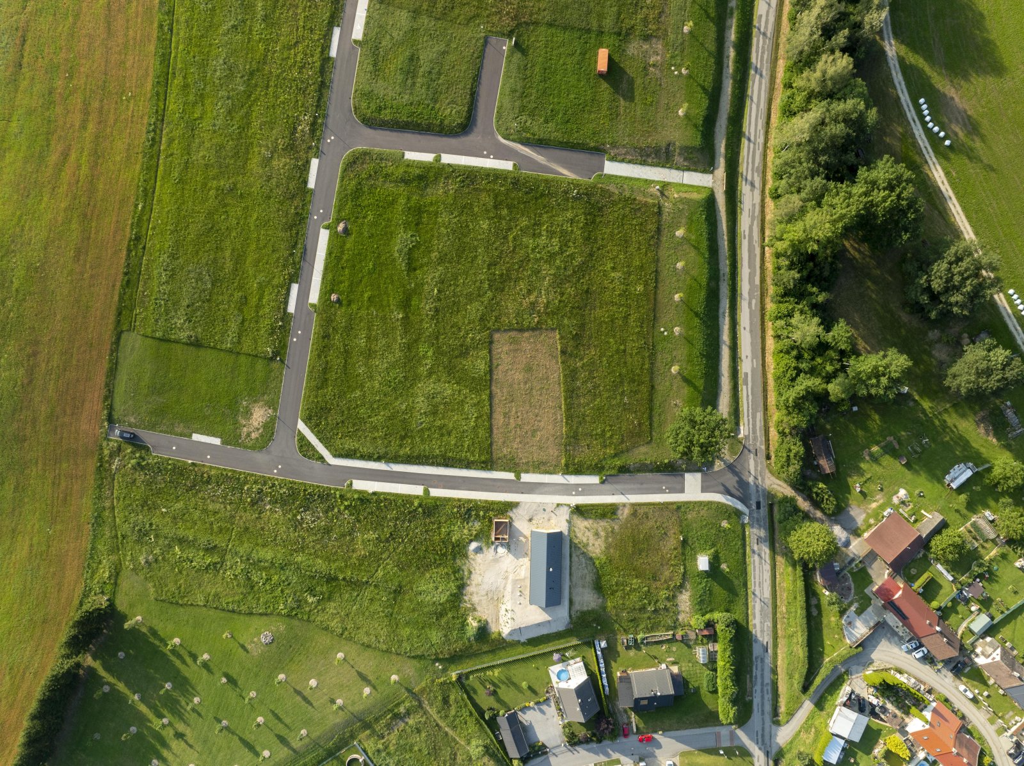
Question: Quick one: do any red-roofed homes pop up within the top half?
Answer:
No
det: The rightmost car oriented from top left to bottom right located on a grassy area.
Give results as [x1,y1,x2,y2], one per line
[959,685,976,701]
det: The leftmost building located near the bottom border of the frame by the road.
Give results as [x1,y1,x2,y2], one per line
[497,708,530,759]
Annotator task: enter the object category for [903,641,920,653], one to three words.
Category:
vehicle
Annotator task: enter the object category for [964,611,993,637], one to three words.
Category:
shed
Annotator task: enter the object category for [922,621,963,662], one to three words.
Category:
house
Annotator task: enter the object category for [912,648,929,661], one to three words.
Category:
vehicle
